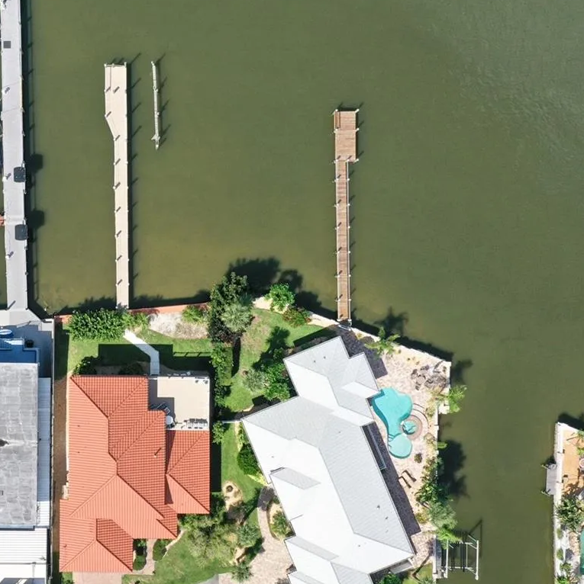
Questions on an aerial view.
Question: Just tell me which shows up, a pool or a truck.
pool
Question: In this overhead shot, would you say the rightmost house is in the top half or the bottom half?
bottom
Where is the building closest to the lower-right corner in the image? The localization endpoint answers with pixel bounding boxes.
[241,336,416,584]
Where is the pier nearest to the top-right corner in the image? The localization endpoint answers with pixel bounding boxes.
[331,108,360,324]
